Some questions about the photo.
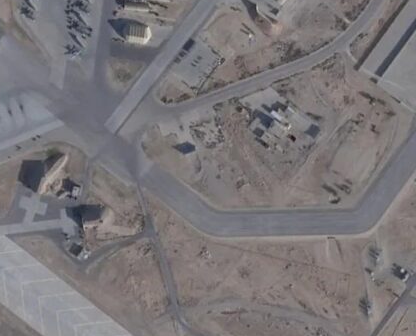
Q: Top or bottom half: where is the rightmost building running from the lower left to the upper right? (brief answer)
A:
top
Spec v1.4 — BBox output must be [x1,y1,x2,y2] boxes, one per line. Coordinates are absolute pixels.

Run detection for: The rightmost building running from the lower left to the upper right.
[363,0,416,77]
